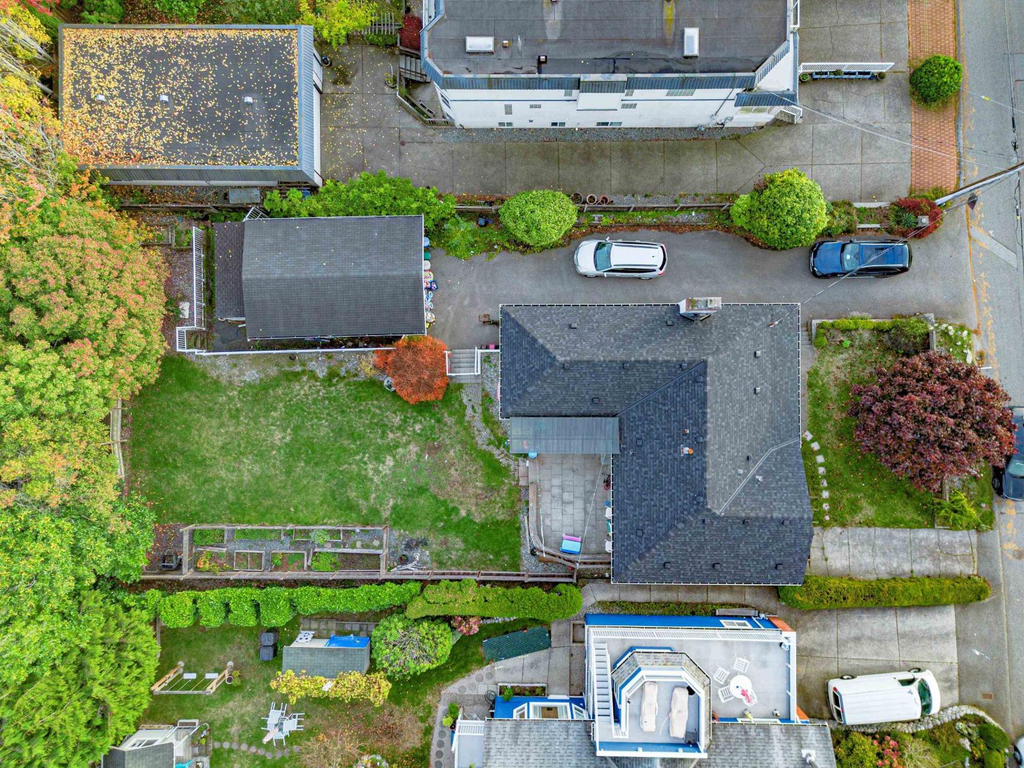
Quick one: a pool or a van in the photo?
van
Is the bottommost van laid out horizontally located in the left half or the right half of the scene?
right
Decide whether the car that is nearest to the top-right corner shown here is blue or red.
blue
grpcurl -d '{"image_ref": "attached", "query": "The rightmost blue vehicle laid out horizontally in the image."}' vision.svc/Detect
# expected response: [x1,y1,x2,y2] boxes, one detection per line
[805,233,914,282]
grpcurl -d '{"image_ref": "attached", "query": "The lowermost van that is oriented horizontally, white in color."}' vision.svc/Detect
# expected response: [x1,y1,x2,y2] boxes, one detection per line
[822,666,939,725]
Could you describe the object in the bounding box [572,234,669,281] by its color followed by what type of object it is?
white car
